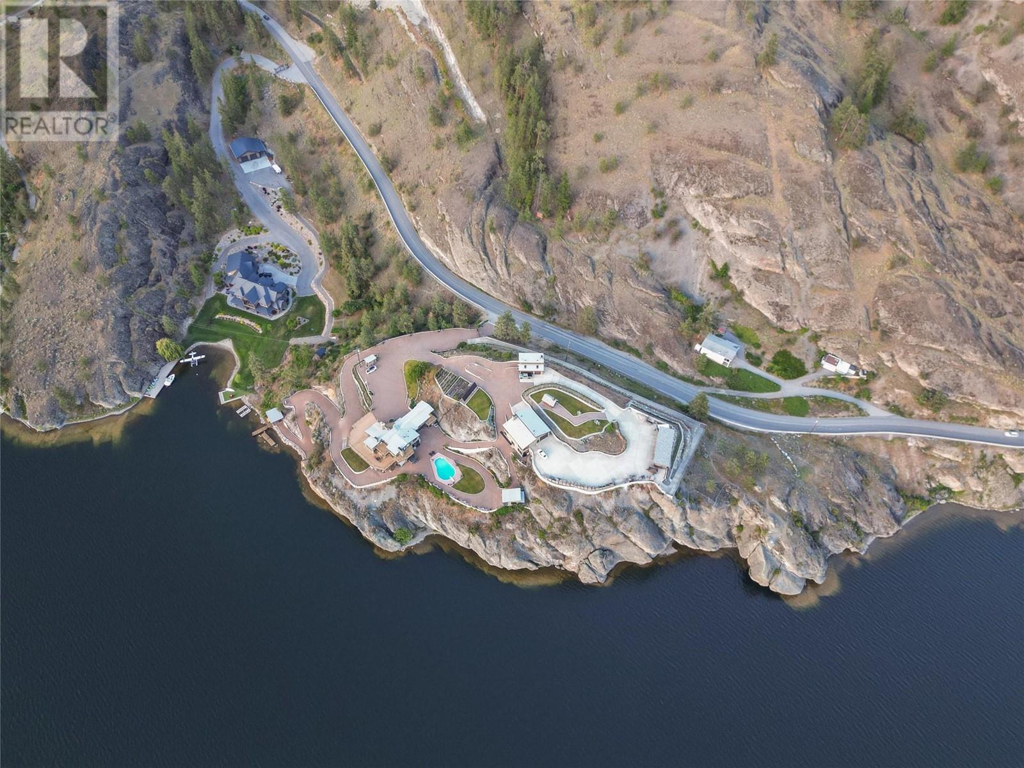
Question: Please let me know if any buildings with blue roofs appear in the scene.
Yes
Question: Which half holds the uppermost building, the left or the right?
left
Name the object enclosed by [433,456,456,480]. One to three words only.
swimming pool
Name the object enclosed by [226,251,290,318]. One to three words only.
house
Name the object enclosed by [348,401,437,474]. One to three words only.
house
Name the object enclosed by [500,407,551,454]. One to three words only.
building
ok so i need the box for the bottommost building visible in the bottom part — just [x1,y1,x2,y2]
[502,488,525,507]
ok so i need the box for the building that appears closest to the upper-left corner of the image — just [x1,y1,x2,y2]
[229,138,271,164]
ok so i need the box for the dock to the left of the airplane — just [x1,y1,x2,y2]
[144,360,182,401]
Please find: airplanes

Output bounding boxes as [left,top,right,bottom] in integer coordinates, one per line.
[181,350,205,369]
